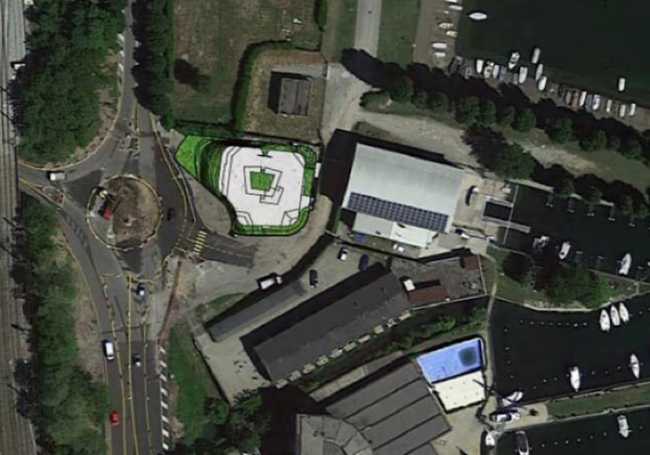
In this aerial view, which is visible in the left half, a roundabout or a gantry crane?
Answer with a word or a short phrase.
roundabout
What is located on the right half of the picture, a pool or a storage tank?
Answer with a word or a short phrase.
pool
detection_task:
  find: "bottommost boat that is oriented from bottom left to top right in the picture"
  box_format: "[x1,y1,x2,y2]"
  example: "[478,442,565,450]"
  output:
[503,390,523,407]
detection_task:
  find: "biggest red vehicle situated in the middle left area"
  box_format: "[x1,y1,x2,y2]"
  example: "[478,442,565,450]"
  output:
[102,200,114,220]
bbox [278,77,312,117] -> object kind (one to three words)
shed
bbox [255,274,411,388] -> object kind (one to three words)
building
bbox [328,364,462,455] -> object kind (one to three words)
building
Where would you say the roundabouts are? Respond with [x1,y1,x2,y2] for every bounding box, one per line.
[88,175,161,250]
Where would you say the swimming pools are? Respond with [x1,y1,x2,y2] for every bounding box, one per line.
[418,338,488,387]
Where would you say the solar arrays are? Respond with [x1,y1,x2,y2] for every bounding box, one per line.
[348,190,448,230]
